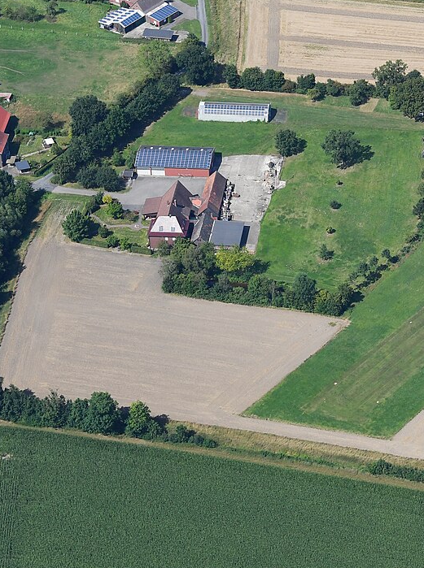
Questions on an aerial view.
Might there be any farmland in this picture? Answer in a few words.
Yes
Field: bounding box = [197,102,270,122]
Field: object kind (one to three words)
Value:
barn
